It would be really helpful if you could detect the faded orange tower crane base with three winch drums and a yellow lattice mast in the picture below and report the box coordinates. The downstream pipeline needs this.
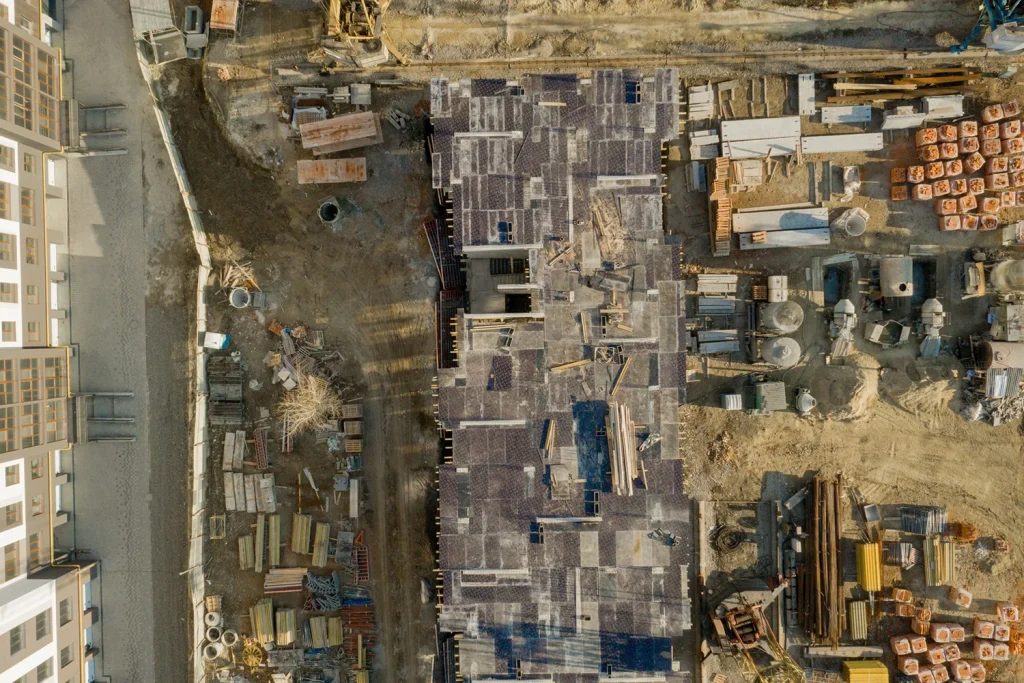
[702,574,810,683]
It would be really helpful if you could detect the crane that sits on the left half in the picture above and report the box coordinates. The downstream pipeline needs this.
[314,0,412,72]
